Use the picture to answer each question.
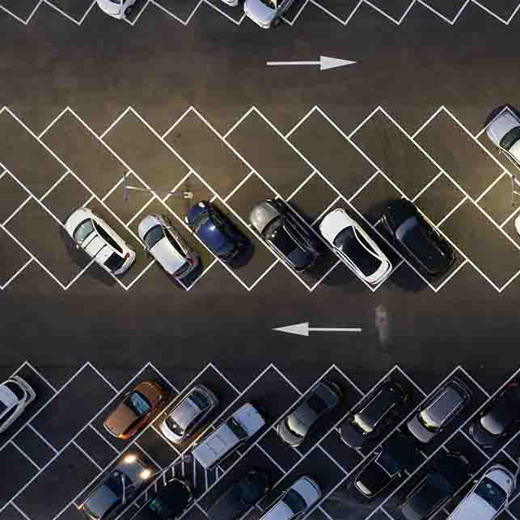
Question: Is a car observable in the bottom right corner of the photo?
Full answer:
Yes, I can see a car in the bottom right corner of the photo.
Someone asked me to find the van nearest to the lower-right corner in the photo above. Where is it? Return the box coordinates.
[444,465,519,520]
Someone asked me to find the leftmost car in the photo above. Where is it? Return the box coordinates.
[0,374,42,437]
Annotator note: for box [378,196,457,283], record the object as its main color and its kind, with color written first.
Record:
black car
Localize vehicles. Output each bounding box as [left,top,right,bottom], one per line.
[203,465,274,520]
[187,401,267,472]
[99,0,142,21]
[338,376,413,451]
[321,208,395,287]
[488,113,520,174]
[0,374,42,437]
[187,202,252,268]
[158,382,225,447]
[74,456,150,520]
[469,377,520,450]
[350,431,422,505]
[137,213,202,282]
[67,208,140,277]
[256,474,325,520]
[250,200,328,278]
[444,465,519,520]
[277,377,347,450]
[246,0,296,30]
[378,196,457,283]
[396,451,471,520]
[100,378,170,445]
[121,476,195,520]
[408,374,476,445]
